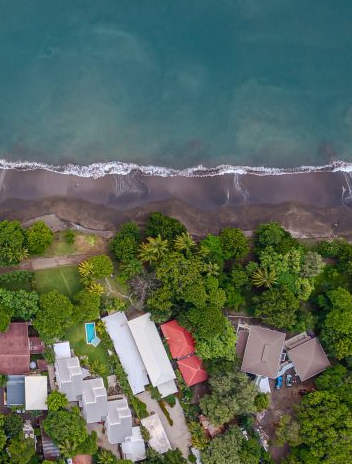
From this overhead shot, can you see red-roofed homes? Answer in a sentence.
Yes, a red-roofed home appears in the view.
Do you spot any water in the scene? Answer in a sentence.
Yes, there is water in the image.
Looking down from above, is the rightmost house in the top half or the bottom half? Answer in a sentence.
It is in the bottom half that the rightmost house appears.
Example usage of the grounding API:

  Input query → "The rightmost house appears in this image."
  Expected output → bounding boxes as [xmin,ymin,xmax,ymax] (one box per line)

[284,338,330,381]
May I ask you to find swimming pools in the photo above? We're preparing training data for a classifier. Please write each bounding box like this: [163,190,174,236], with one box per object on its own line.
[85,323,101,347]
